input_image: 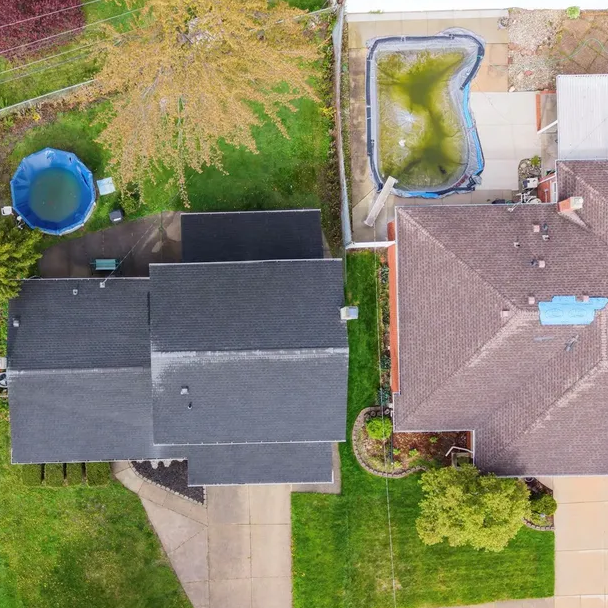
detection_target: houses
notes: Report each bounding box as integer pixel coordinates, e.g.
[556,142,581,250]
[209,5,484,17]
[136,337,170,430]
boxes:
[8,208,358,486]
[383,72,608,477]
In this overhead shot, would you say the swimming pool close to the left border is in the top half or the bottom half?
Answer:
top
